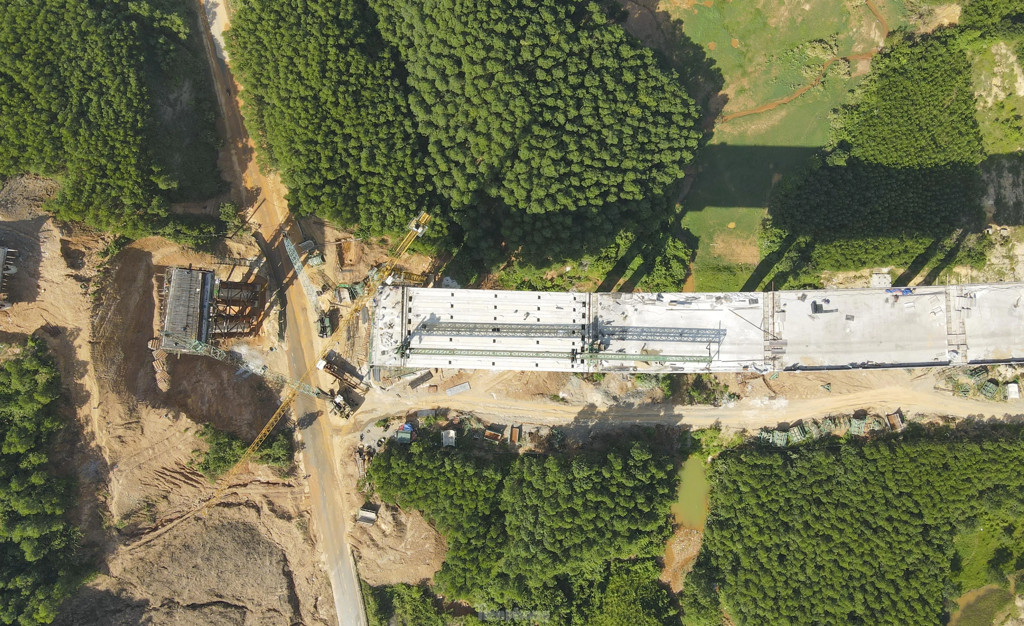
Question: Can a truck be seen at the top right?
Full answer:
No, looking at the top right, there is no truck.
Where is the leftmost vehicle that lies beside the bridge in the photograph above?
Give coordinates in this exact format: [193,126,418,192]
[316,362,373,401]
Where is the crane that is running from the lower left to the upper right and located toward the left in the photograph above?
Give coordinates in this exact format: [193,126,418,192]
[200,210,437,516]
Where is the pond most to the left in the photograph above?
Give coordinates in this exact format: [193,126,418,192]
[671,456,709,529]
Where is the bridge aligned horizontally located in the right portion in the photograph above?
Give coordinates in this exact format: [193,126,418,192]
[371,281,1024,373]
